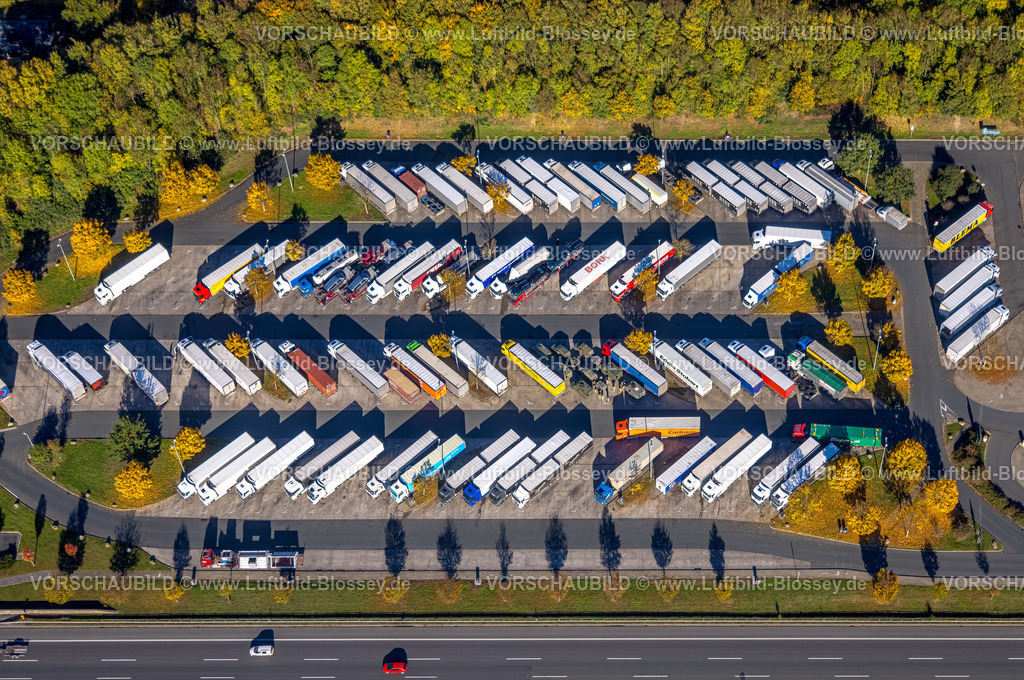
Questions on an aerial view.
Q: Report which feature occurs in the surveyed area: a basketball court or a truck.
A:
truck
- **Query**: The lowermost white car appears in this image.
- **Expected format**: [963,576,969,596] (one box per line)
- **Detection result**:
[249,644,274,657]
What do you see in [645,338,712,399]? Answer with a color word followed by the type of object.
white truck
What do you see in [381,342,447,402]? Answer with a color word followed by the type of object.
white truck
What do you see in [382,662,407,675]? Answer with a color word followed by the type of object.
red vehicle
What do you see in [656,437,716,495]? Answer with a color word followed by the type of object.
white trailer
